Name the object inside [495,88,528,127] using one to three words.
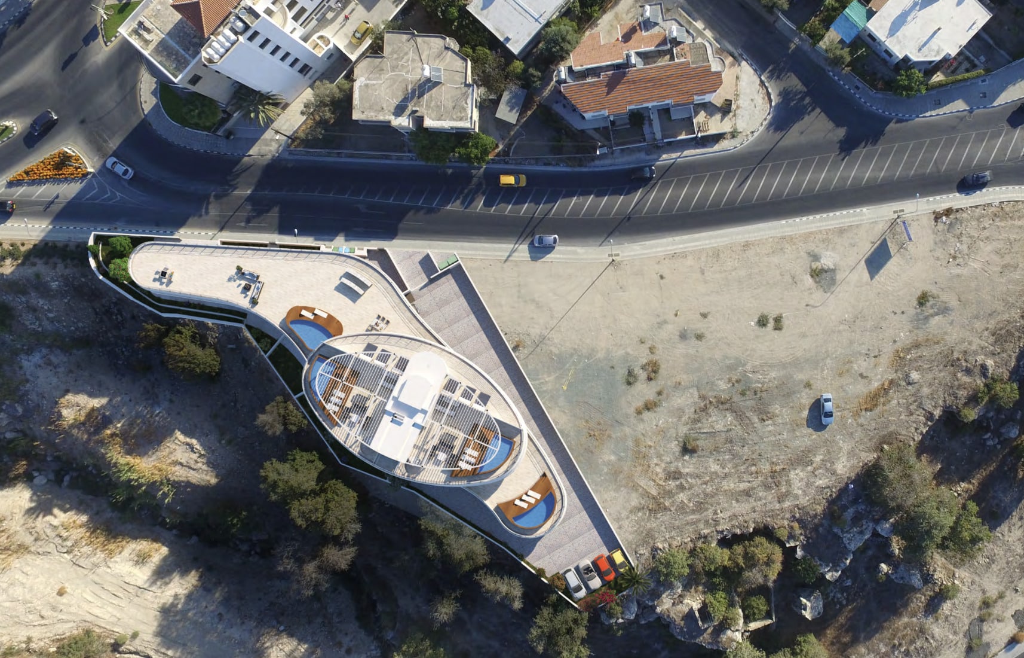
shed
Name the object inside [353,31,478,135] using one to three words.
house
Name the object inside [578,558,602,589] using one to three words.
car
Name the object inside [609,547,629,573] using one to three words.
car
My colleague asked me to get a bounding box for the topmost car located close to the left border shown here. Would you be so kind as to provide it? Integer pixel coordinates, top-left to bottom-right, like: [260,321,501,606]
[30,109,58,134]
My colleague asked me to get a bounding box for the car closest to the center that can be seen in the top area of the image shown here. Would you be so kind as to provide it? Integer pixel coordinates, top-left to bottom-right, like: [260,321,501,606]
[534,234,559,247]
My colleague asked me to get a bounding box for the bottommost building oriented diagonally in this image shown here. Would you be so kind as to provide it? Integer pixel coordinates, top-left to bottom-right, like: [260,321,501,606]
[128,241,567,537]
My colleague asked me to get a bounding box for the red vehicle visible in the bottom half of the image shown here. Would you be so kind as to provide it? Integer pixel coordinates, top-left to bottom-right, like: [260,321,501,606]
[594,553,615,581]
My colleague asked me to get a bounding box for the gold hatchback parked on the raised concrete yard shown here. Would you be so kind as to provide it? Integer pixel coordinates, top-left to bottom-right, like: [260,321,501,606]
[352,19,372,47]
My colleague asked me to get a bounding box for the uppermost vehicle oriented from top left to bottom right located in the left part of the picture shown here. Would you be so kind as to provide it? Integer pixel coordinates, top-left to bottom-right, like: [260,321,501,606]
[105,156,134,181]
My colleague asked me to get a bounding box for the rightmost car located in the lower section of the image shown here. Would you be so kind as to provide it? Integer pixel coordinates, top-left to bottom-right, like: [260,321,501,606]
[819,394,834,425]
